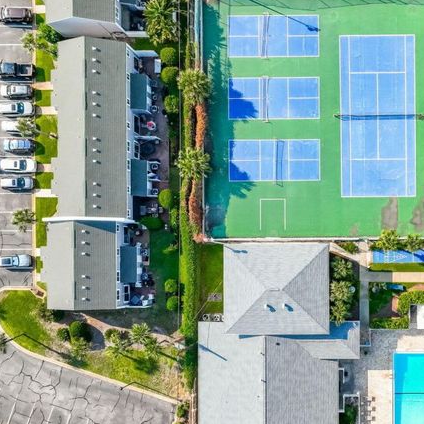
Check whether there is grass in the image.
Yes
